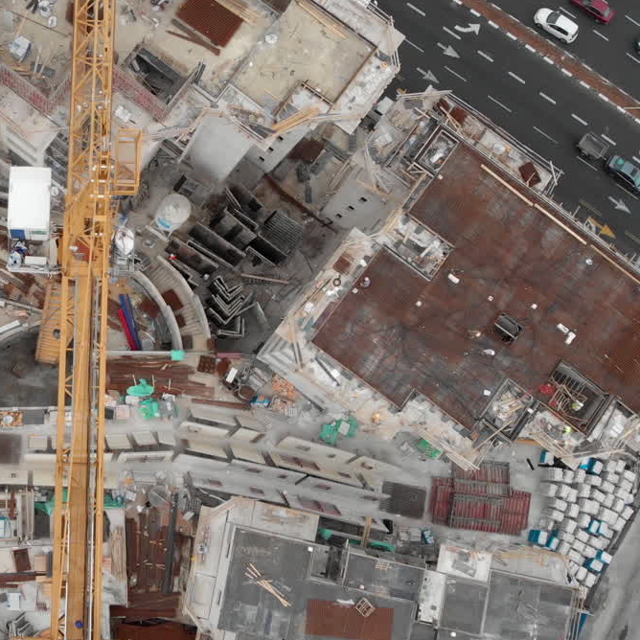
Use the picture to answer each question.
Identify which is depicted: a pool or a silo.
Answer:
silo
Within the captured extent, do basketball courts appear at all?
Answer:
No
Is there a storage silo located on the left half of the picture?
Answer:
Yes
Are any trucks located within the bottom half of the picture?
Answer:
No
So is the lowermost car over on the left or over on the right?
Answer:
right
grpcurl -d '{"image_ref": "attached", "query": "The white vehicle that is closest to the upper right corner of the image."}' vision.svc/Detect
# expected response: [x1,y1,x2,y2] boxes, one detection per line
[530,8,580,43]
